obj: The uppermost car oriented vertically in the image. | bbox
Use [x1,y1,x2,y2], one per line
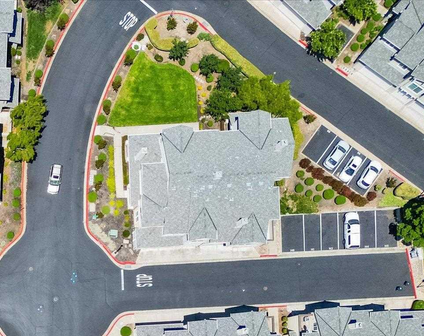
[46,163,63,196]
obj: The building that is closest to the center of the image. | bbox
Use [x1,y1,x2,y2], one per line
[126,108,295,250]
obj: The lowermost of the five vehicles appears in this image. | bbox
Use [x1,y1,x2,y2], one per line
[343,212,363,247]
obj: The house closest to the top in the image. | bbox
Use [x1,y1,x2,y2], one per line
[274,0,339,35]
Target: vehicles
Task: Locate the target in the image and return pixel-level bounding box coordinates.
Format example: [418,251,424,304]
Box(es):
[323,141,349,171]
[338,154,364,183]
[356,160,383,191]
[343,212,363,247]
[46,163,63,196]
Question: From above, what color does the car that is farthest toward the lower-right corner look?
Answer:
white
